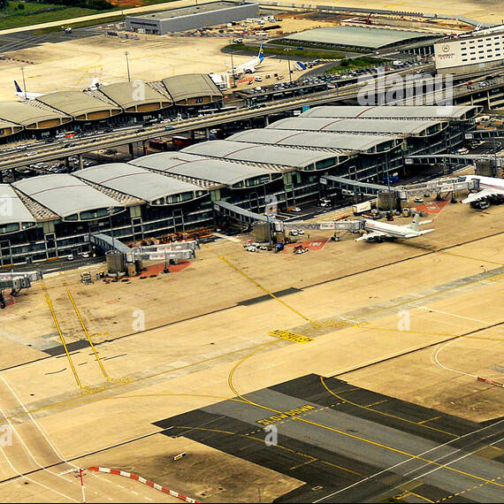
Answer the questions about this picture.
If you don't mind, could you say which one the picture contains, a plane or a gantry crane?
plane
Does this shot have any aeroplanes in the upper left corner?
Yes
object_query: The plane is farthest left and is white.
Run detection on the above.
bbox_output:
[10,82,39,101]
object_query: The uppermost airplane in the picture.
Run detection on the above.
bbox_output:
[228,46,282,75]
